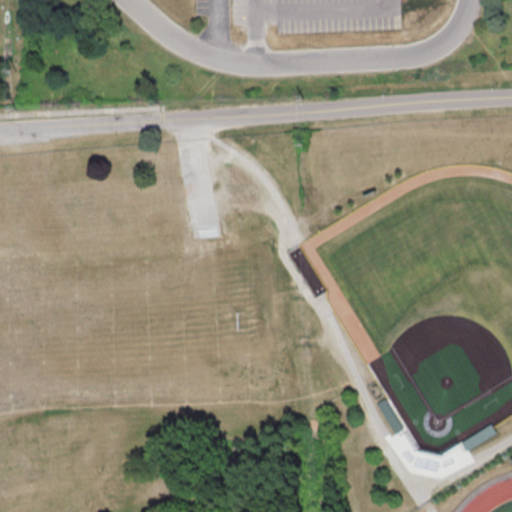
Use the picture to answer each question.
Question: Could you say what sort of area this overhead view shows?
sports ground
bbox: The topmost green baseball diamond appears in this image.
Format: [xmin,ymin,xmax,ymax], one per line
[302,165,512,453]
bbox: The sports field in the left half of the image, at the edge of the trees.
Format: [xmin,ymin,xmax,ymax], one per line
[0,257,262,402]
